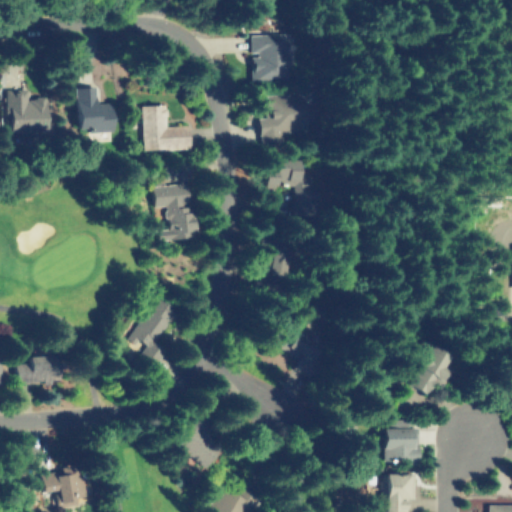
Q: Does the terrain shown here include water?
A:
No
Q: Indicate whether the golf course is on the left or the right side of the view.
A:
left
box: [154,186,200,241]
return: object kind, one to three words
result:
house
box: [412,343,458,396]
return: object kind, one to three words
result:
house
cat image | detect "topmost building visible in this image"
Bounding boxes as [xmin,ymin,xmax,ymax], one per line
[249,35,284,82]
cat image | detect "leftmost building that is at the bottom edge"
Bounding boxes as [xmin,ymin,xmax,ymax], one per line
[42,464,89,510]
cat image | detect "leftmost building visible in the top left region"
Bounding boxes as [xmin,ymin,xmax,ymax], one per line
[8,90,52,132]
